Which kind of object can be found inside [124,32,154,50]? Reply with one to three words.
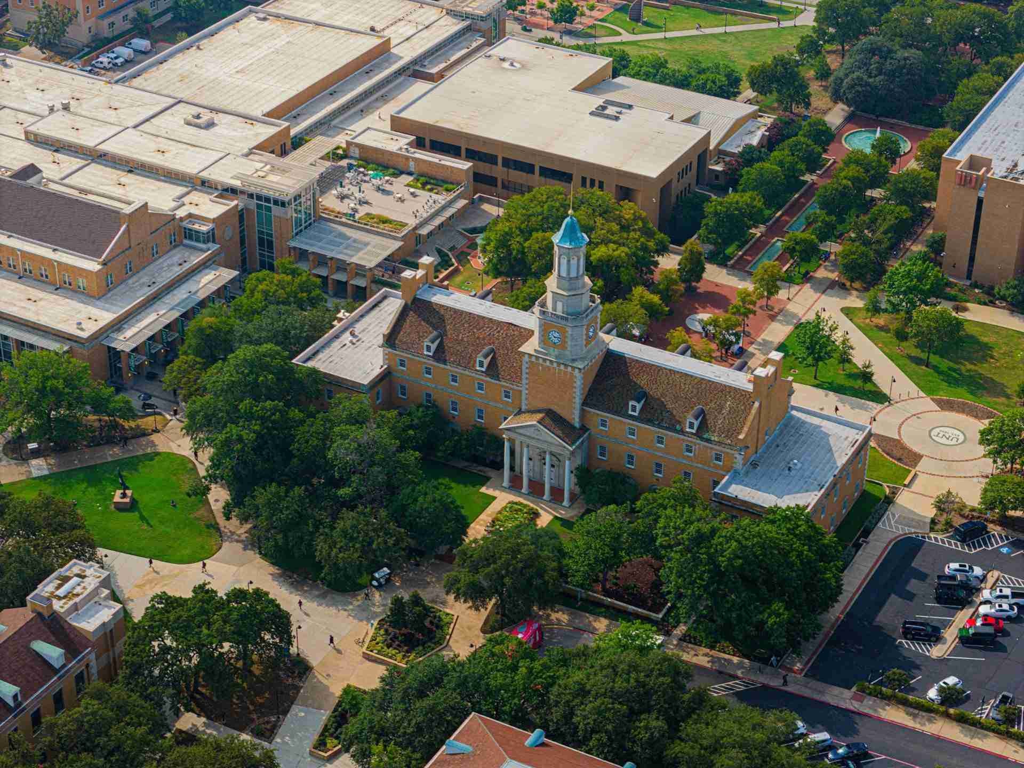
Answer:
vehicle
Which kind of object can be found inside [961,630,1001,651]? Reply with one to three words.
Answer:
car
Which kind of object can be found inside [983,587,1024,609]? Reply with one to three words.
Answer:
truck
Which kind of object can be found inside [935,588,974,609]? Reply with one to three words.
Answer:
car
